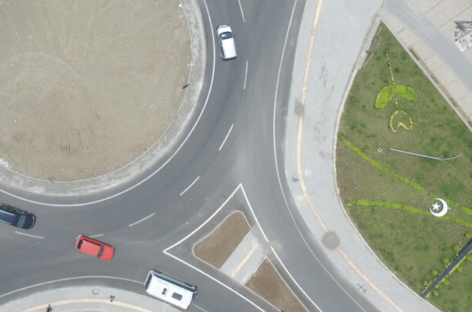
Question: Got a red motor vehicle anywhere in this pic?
Yes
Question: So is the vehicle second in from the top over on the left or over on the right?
left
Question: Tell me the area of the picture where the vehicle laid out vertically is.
top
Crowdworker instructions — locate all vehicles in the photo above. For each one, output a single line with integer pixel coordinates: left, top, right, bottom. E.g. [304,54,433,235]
[73,234,116,261]
[216,24,237,61]
[145,270,197,310]
[0,205,37,230]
